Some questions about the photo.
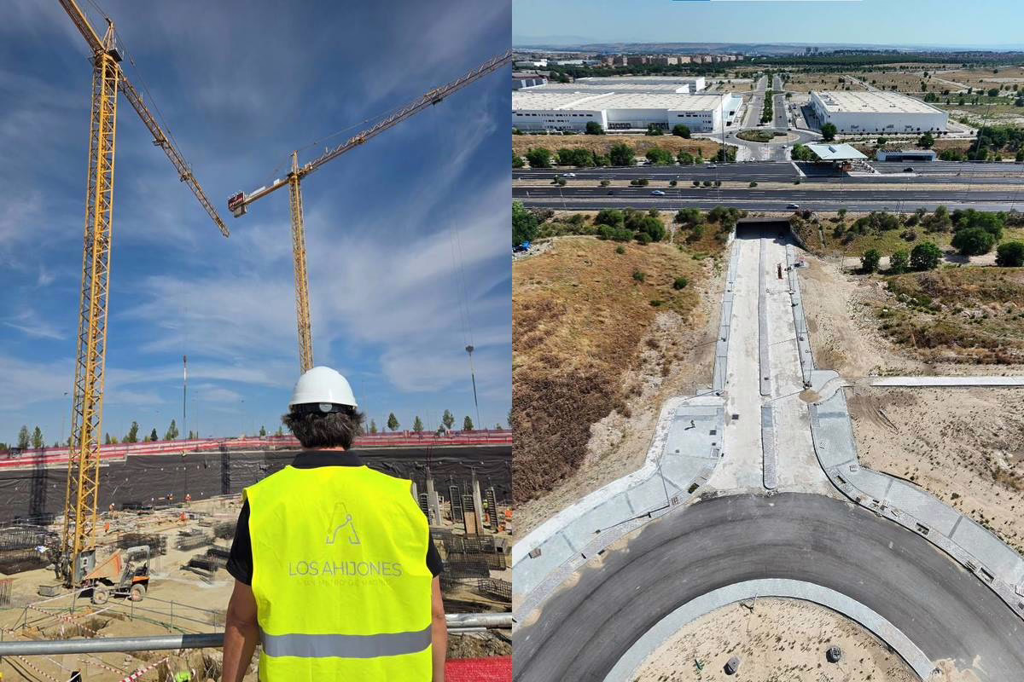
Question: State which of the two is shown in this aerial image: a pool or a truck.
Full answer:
The one in the frame is a truck.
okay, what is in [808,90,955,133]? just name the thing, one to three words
building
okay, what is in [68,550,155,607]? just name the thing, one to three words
truck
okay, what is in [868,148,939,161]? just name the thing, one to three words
building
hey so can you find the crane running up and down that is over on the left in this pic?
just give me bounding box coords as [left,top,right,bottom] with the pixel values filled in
[50,0,234,593]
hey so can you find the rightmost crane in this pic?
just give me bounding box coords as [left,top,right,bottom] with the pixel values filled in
[225,46,511,451]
